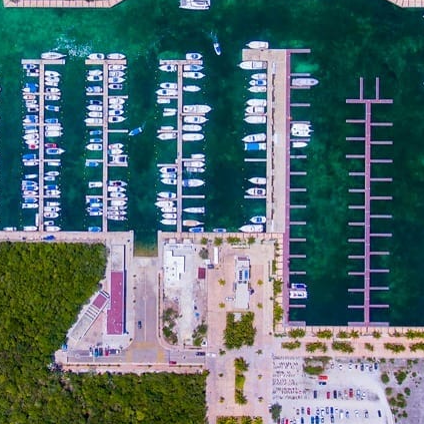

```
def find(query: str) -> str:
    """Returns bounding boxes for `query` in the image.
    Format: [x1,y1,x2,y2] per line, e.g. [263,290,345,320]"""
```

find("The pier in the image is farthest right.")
[346,78,393,326]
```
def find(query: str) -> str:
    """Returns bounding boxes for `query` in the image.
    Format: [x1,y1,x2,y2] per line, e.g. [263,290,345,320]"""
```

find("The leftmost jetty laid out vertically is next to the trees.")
[22,59,66,232]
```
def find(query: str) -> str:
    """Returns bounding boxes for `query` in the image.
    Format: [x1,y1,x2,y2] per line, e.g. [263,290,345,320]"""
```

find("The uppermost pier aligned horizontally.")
[242,50,267,62]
